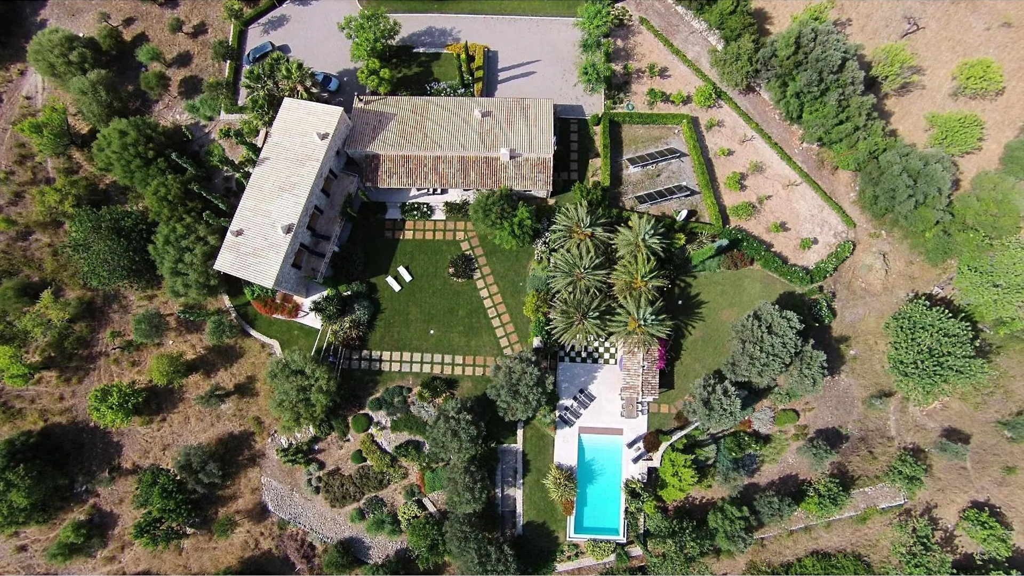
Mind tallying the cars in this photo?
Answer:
2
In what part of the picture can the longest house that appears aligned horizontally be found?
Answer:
top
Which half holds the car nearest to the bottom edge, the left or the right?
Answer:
left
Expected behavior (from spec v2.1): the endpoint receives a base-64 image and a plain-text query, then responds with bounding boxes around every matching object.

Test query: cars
[312,67,346,97]
[243,39,281,71]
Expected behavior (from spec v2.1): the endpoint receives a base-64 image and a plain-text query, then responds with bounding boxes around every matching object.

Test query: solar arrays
[626,146,680,174]
[634,184,690,209]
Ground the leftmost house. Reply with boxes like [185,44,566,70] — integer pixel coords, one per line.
[214,94,366,292]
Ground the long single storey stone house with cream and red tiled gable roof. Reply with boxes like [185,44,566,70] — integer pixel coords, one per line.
[345,91,556,195]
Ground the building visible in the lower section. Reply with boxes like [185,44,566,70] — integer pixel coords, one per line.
[618,345,662,400]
